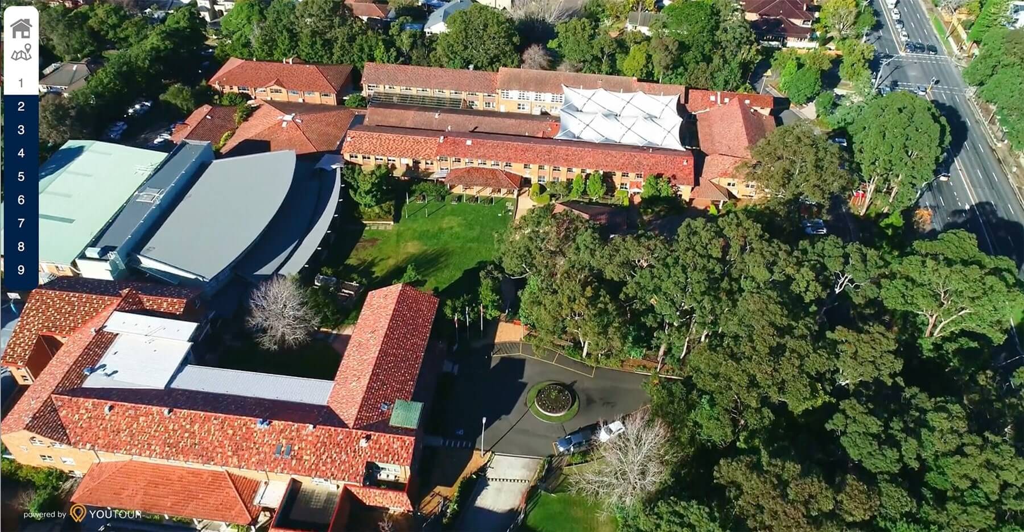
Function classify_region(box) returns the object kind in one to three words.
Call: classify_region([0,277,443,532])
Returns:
building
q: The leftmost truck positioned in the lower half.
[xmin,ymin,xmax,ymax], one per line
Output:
[557,423,594,448]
